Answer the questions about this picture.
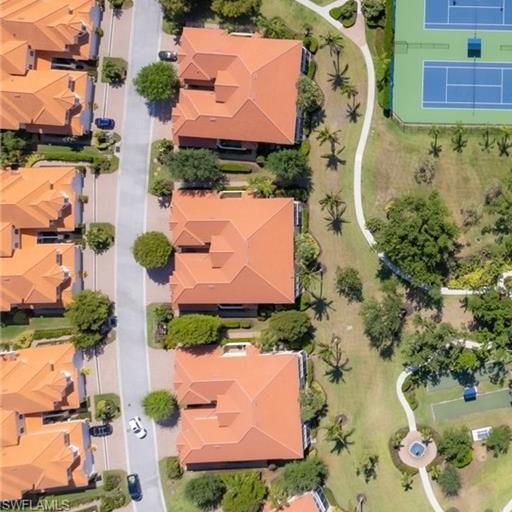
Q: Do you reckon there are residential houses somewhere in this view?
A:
Yes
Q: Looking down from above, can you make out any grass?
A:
Yes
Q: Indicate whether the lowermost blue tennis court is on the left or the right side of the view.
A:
right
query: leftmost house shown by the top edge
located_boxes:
[0,0,104,134]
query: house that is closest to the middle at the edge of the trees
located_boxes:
[170,191,300,315]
